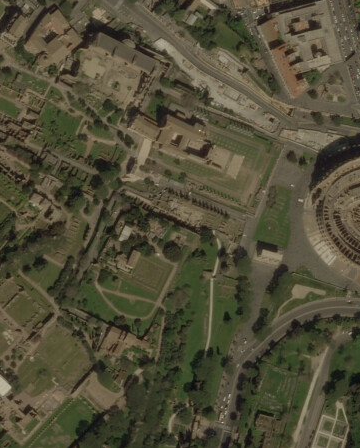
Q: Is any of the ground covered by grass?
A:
Yes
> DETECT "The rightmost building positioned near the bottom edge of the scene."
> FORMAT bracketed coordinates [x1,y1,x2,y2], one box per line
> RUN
[255,416,281,448]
